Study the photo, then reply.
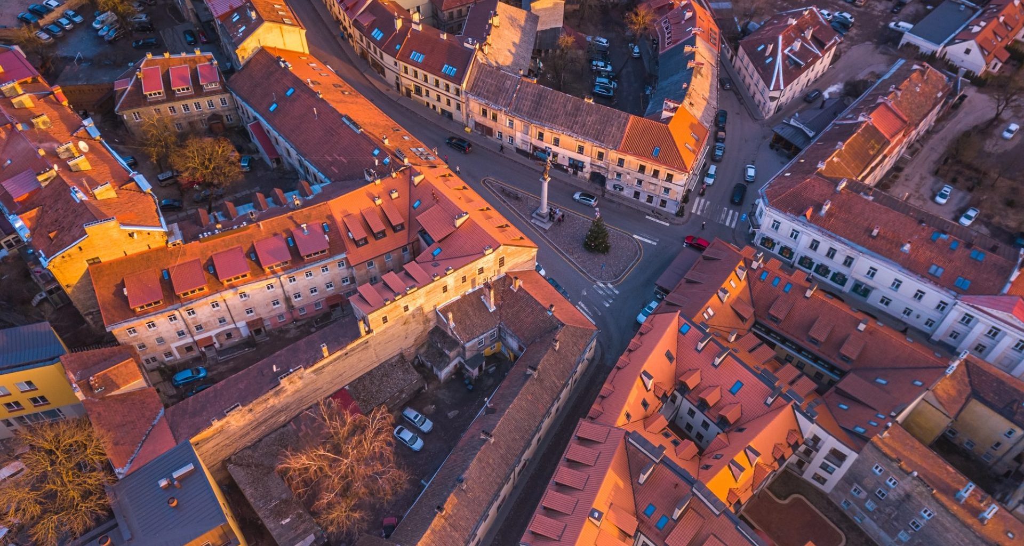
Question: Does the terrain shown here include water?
No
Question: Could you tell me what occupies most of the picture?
buildings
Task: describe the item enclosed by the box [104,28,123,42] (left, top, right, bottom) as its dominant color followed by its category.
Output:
blue car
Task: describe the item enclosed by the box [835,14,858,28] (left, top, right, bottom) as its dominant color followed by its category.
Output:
blue car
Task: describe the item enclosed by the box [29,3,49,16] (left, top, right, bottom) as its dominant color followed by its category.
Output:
blue vehicle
